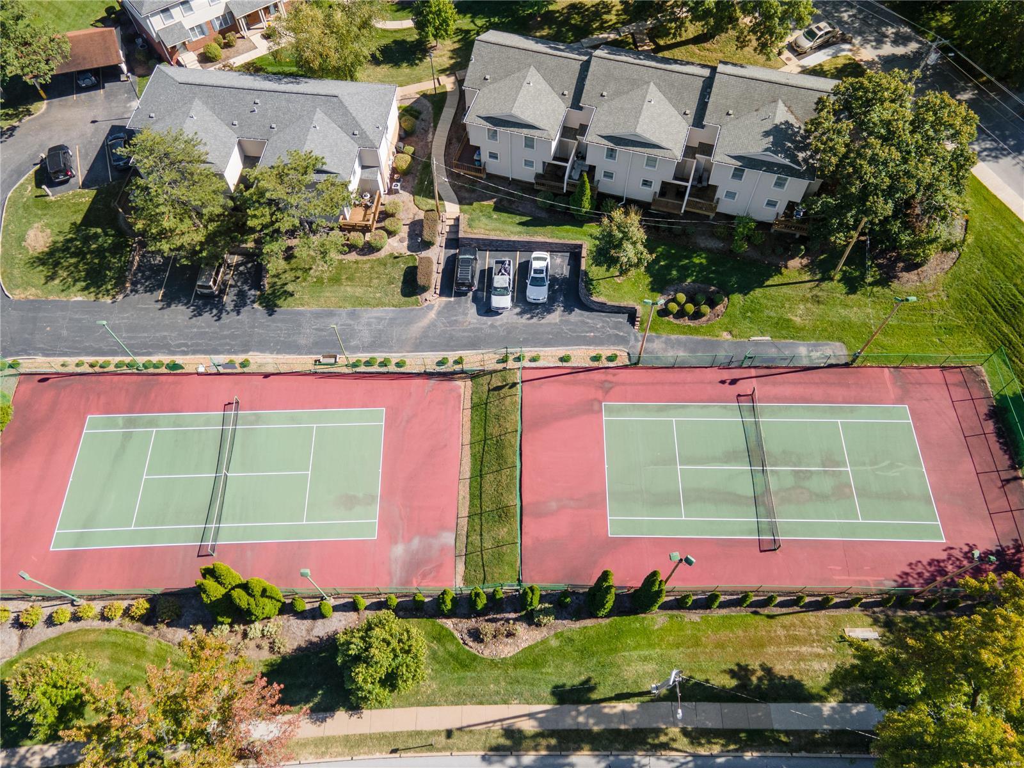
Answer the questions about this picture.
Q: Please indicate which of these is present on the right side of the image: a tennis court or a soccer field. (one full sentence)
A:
Visible on the right side of the image is a tennis court.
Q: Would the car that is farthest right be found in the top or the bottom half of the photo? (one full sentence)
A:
The car that is farthest right is in the top half of the image.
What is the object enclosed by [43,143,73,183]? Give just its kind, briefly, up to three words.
car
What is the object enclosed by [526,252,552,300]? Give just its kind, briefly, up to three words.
car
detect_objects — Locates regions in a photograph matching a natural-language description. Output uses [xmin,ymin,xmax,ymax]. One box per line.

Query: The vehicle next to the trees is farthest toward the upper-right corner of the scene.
[794,25,841,55]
